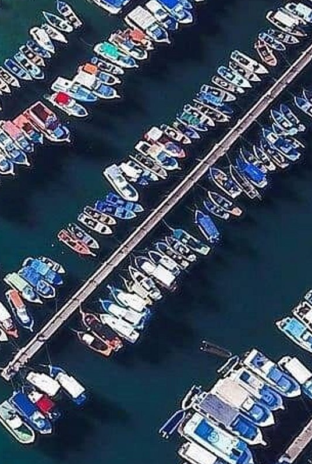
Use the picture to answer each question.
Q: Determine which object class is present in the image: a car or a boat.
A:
boat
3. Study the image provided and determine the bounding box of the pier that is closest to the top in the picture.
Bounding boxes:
[0,39,312,385]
